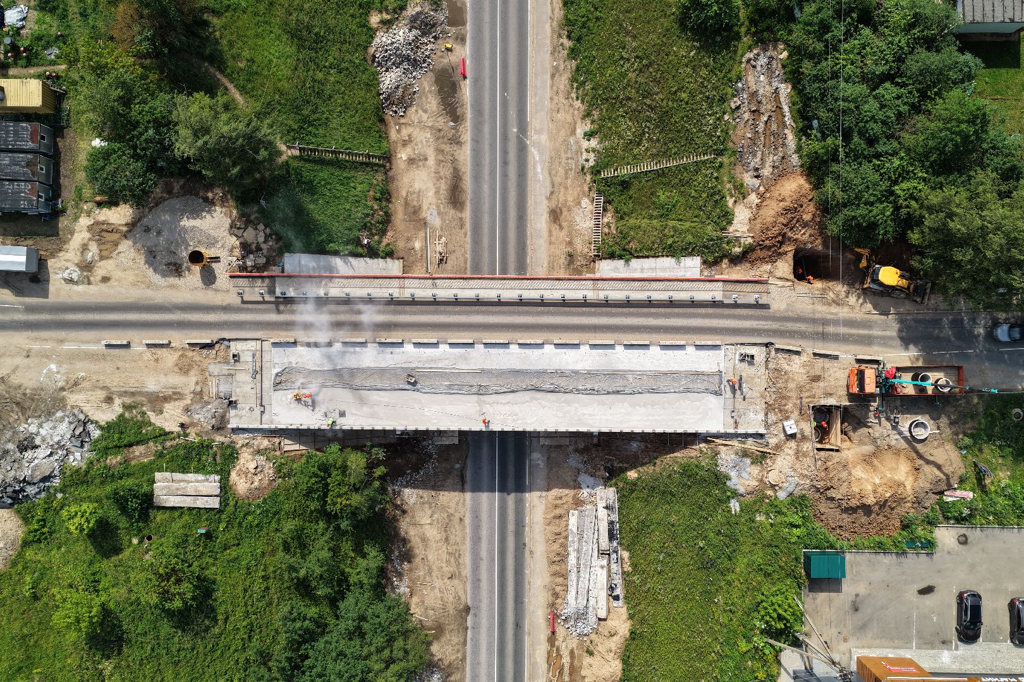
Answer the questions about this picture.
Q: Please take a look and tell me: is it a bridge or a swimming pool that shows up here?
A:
bridge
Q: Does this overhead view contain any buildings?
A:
Yes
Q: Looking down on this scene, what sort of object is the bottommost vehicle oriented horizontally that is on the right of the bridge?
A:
truck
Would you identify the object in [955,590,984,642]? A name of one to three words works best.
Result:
car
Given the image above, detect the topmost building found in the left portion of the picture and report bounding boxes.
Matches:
[0,124,57,158]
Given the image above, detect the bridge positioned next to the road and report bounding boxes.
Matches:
[228,273,770,443]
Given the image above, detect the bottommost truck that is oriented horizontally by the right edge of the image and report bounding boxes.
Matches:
[847,357,999,413]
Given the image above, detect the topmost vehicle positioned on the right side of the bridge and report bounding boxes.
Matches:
[842,245,917,304]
